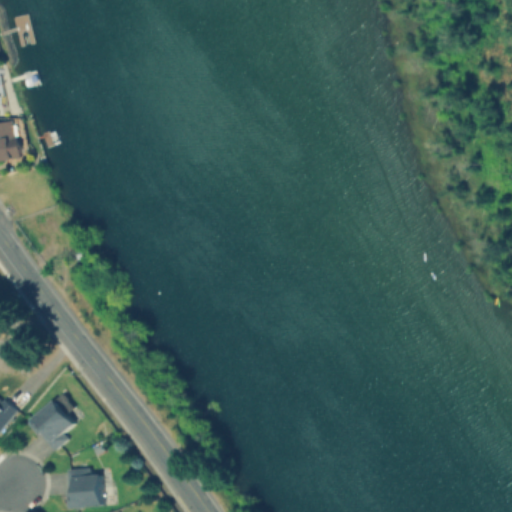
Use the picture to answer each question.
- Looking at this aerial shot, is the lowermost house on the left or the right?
left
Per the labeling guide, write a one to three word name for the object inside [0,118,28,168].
house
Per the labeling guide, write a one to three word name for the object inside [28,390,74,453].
house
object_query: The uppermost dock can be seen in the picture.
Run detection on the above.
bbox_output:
[8,14,36,47]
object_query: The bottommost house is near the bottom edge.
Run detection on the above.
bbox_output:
[66,468,107,510]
